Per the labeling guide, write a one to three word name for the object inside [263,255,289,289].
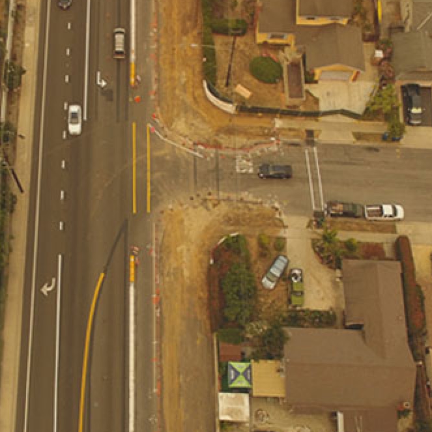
car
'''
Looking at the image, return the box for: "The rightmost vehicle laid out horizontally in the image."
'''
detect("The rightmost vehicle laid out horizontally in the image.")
[365,204,404,221]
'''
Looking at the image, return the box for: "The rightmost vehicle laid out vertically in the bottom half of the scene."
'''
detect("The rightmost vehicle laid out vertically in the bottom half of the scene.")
[288,267,306,308]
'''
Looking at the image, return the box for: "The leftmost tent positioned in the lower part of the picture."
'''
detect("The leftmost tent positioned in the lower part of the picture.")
[226,361,251,390]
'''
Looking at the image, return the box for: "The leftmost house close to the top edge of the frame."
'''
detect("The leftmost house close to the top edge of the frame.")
[258,0,370,80]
